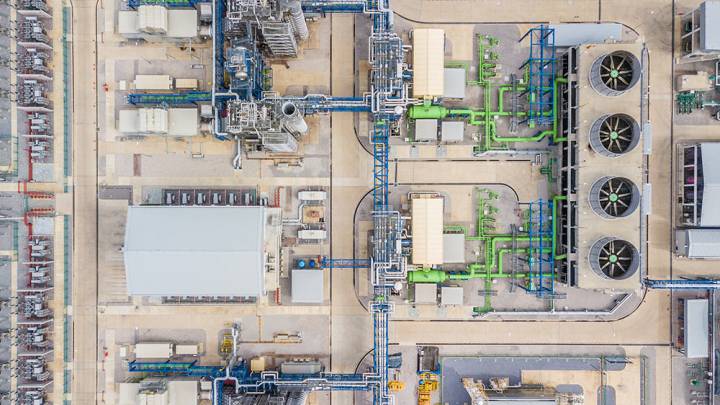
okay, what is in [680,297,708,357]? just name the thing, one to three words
building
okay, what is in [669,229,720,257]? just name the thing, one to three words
shed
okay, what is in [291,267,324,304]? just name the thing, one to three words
building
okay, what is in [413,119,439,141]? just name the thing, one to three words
house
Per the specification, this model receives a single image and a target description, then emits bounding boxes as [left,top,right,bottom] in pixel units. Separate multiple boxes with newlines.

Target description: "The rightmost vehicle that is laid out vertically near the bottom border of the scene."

[416,344,441,405]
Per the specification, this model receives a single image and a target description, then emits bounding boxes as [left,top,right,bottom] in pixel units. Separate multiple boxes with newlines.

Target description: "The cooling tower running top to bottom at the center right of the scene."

[553,39,645,290]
